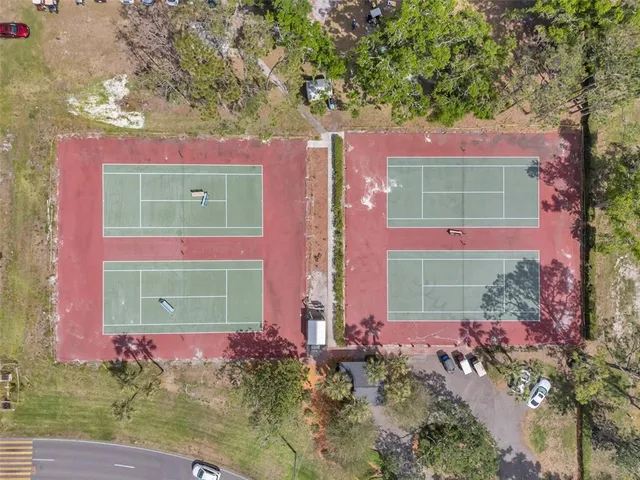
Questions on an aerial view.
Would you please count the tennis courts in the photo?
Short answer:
4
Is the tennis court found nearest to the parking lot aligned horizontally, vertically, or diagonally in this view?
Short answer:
horizontally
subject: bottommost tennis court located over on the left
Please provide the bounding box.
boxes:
[58,249,306,361]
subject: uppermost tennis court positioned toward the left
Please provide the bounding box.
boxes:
[58,138,306,249]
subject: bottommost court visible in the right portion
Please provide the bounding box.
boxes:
[345,239,582,345]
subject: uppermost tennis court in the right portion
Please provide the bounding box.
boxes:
[345,129,582,239]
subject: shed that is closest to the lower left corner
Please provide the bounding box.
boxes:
[308,318,326,345]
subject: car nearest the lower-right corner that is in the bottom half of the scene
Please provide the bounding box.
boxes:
[527,379,553,411]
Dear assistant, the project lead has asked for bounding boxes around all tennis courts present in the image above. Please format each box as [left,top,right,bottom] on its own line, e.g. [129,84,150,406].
[345,239,582,345]
[58,138,306,249]
[58,249,306,361]
[345,129,582,239]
